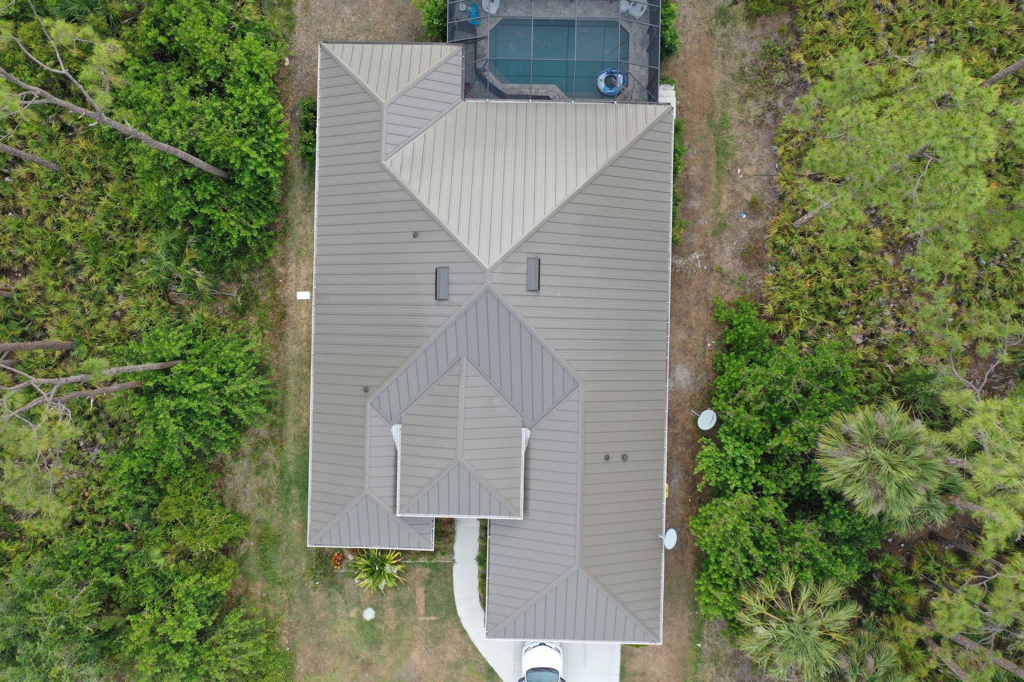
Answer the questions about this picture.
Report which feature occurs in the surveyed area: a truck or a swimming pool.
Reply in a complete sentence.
Visible in the photo is a swimming pool.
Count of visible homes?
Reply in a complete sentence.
Altogether the scene contains 1 home.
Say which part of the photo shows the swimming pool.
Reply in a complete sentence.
Look in the top portion of the view to spot the swimming pool.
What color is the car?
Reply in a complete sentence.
The car is white.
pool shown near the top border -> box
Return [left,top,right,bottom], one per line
[483,11,635,101]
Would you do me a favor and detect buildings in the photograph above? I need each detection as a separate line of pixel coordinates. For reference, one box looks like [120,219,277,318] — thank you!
[307,40,674,644]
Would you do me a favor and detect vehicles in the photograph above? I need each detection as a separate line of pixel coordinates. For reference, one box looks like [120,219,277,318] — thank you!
[518,641,567,682]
